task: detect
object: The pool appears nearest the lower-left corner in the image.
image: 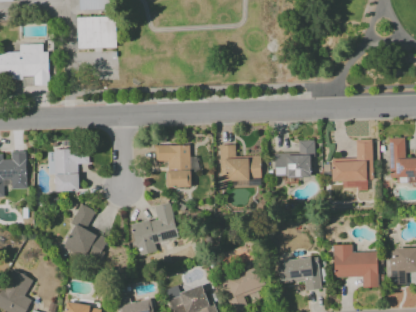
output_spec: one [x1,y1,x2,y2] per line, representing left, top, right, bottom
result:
[70,280,92,294]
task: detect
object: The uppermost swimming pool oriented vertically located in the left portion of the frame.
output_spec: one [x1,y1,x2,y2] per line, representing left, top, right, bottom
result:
[38,168,50,194]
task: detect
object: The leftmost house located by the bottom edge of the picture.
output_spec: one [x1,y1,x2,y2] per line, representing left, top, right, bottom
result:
[0,272,34,312]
